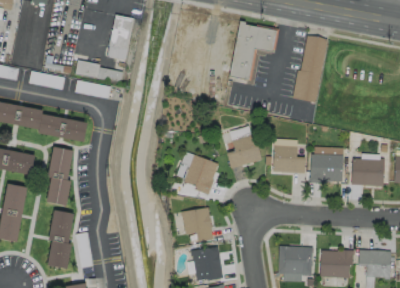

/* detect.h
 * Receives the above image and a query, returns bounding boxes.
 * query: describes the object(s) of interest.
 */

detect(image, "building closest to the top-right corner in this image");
[294,35,328,102]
